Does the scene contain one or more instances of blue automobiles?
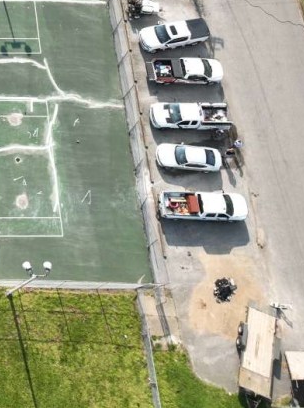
No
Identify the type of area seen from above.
sports ground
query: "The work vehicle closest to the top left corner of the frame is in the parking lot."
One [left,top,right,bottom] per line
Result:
[126,0,164,19]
